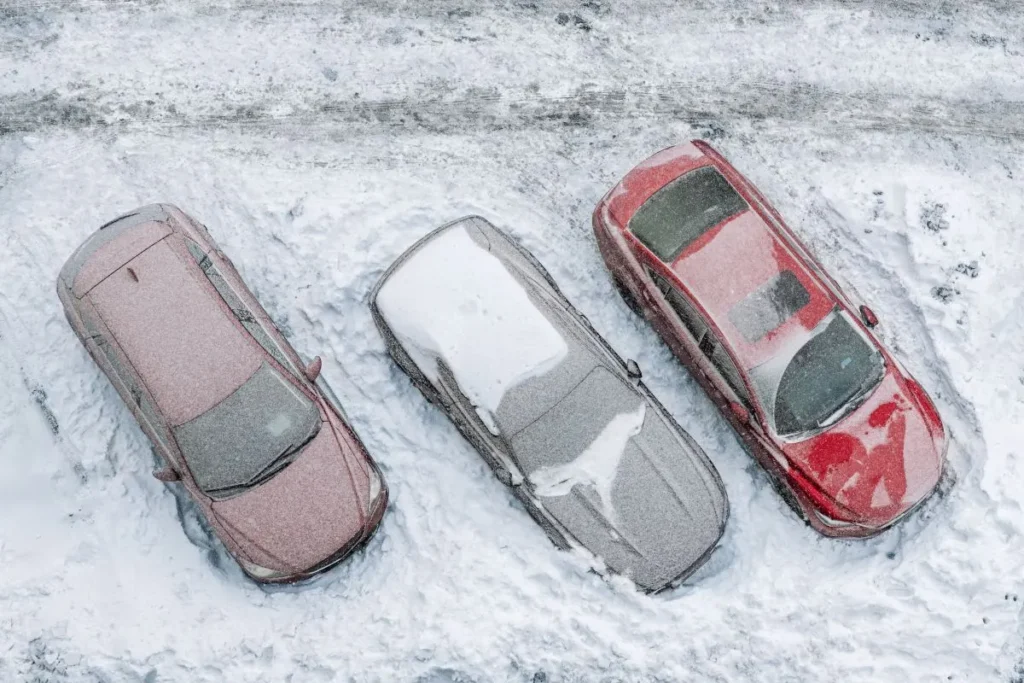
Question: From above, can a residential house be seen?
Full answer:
No, the picture doesn't show any residential house.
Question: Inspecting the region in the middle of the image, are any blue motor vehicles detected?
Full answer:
No, the scene shows no blue motor vehicle in the middle of the image.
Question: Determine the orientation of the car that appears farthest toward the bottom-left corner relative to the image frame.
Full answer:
What the image shows is the car that appears farthest toward the bottom-left corner lying at an angle.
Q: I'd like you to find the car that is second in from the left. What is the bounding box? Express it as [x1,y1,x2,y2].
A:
[367,214,729,605]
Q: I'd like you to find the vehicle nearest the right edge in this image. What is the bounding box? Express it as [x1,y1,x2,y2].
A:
[592,141,945,529]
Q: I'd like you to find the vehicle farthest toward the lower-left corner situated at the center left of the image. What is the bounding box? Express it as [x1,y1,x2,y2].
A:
[57,207,386,582]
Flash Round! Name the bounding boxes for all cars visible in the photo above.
[367,214,729,605]
[57,207,386,582]
[592,141,945,529]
